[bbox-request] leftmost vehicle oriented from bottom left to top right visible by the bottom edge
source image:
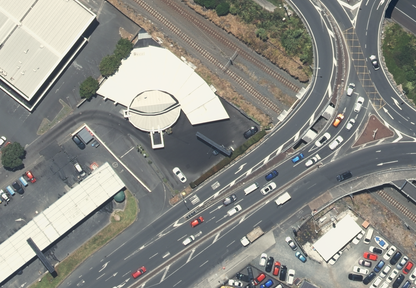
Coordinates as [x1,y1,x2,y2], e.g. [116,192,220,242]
[130,266,147,278]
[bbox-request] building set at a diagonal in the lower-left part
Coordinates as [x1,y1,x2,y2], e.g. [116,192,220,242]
[0,162,126,283]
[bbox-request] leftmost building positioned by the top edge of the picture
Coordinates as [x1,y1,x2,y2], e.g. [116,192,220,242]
[0,0,98,102]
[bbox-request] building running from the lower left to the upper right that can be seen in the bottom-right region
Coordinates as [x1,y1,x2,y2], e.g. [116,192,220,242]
[314,214,362,262]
